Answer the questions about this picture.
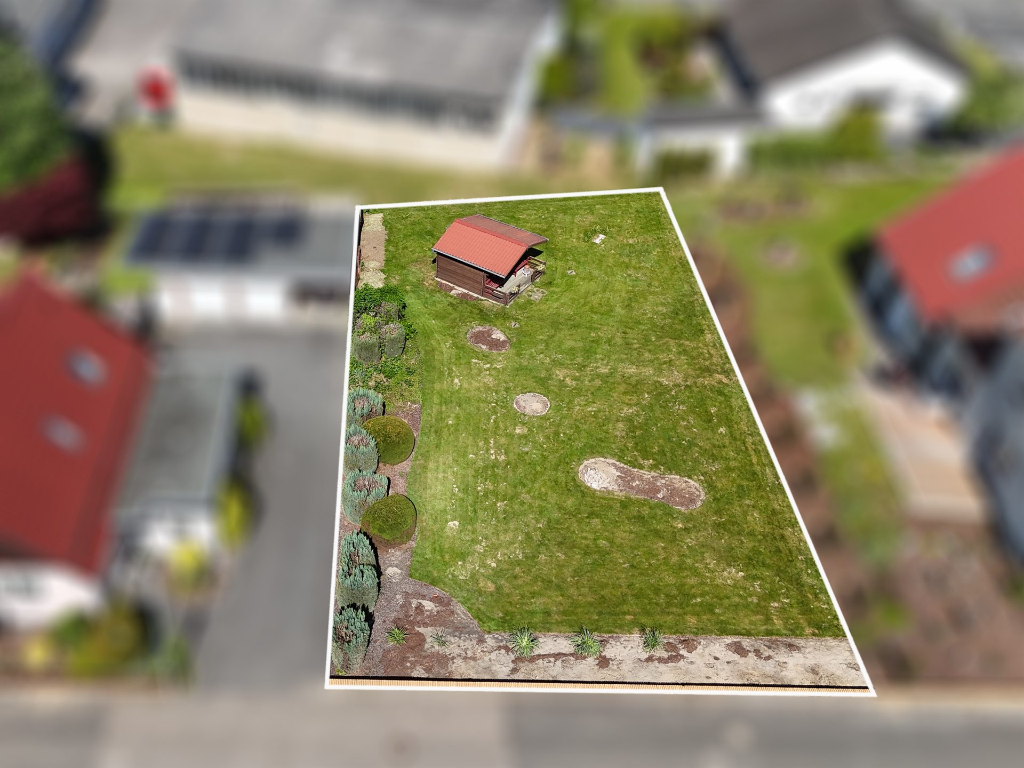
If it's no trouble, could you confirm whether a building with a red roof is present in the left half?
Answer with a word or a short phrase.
Yes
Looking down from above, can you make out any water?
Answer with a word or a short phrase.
No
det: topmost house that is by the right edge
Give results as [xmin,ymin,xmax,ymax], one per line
[718,0,987,144]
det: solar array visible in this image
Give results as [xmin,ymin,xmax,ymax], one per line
[136,213,298,259]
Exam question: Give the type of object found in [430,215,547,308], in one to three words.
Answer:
building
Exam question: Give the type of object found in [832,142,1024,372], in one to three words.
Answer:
house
